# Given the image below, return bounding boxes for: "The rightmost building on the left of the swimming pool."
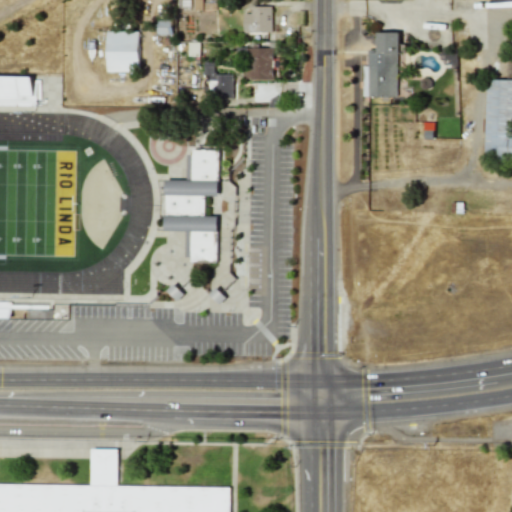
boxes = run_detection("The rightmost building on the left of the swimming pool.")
[364,32,400,97]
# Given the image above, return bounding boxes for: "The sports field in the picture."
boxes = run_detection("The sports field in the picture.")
[0,136,130,272]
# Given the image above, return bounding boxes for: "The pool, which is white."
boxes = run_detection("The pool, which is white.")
[404,51,447,81]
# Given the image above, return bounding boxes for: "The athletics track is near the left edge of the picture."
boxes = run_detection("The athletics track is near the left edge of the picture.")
[0,113,153,294]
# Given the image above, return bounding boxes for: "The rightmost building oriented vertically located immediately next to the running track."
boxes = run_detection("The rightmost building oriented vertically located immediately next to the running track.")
[162,150,219,262]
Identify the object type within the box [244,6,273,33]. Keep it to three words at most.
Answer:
house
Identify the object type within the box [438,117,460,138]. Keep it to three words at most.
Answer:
sports court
